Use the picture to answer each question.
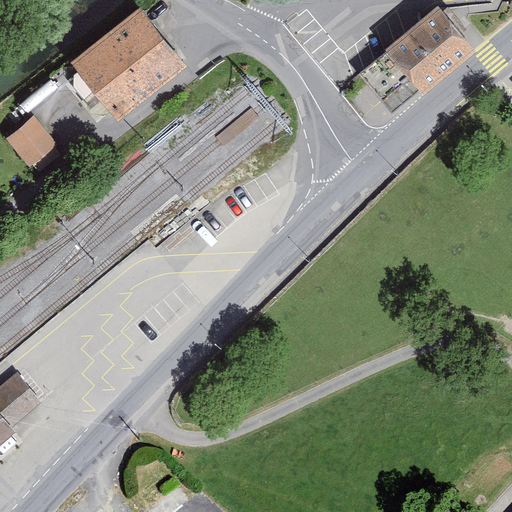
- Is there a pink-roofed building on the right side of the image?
No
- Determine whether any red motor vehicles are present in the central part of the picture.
Yes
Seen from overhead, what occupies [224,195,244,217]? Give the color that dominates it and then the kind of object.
red car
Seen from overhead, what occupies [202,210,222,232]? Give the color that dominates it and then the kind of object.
gray car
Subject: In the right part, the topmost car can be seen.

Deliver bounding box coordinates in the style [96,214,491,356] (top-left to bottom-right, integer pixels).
[368,36,384,58]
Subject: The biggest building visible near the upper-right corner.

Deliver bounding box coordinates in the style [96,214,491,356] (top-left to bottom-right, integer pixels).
[386,4,478,94]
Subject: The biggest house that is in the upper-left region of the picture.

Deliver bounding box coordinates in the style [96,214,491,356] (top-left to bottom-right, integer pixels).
[70,6,187,121]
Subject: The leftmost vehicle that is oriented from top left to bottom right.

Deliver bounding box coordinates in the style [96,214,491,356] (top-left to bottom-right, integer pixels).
[138,320,157,340]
